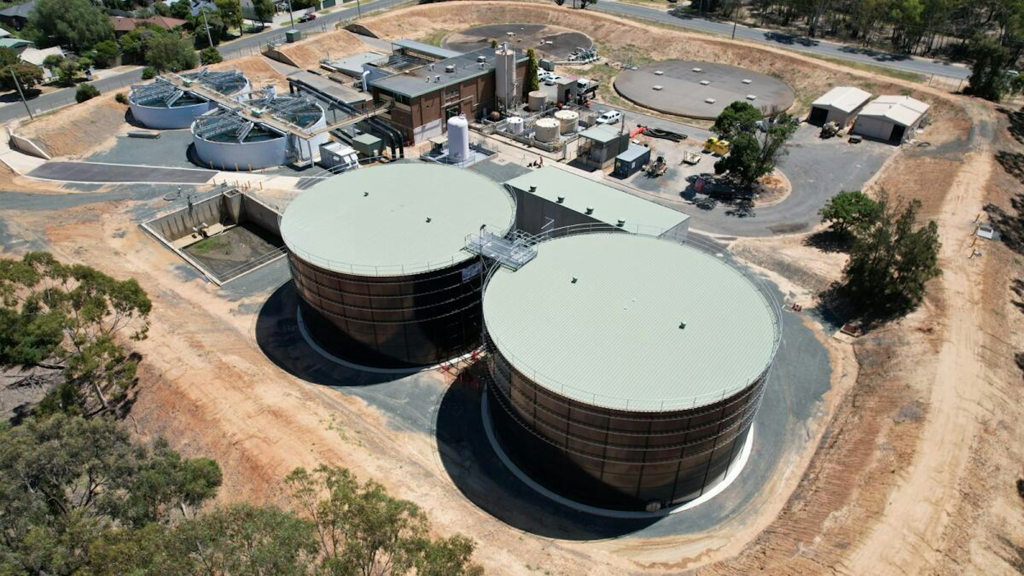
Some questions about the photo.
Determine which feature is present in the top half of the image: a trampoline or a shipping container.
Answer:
shipping container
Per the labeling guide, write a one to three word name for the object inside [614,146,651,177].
shipping container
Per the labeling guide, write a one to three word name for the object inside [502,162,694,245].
building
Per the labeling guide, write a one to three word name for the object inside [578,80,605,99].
vehicle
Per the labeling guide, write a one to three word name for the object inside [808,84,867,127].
shed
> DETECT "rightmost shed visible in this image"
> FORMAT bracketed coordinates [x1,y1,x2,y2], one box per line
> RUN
[854,93,930,142]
